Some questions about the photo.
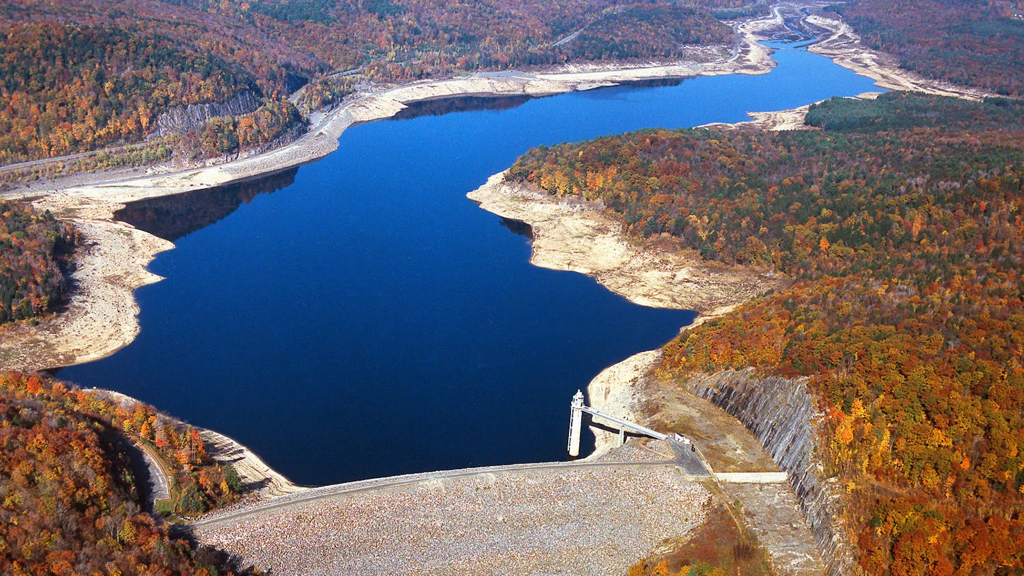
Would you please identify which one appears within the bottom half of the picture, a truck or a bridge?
bridge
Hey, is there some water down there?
Yes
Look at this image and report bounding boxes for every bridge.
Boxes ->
[581,412,671,454]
